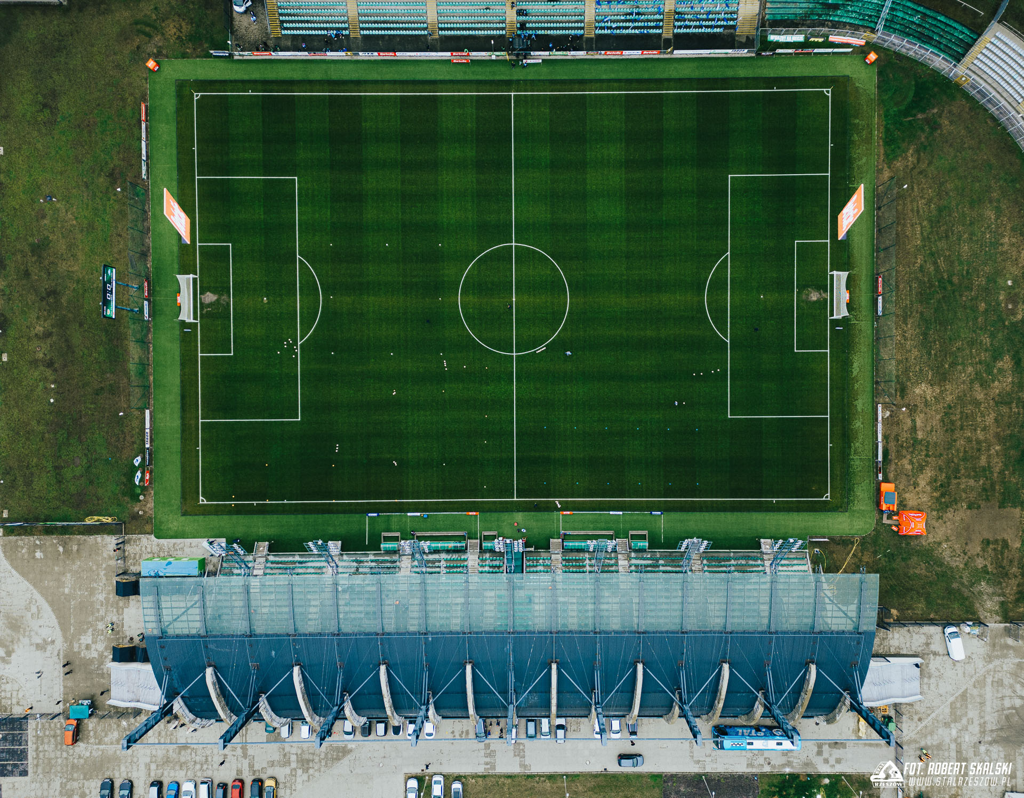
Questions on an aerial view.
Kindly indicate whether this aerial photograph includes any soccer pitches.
Yes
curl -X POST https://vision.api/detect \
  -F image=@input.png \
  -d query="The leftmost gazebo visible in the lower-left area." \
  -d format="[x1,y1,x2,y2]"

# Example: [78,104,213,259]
[70,700,96,719]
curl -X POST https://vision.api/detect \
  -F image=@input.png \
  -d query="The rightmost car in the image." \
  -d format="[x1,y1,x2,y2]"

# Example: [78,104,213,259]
[943,627,965,660]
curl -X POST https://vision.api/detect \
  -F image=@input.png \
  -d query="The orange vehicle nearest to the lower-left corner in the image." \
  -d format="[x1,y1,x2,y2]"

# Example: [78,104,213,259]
[63,719,79,745]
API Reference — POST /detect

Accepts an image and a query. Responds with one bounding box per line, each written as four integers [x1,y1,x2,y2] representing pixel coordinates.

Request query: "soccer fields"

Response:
[148,54,877,550]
